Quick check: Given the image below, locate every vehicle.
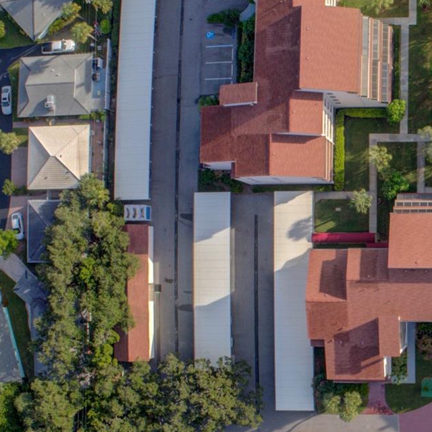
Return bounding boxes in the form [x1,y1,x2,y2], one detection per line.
[39,37,74,51]
[0,85,12,115]
[6,211,24,238]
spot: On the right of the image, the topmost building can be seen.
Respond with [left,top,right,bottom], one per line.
[200,0,398,183]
